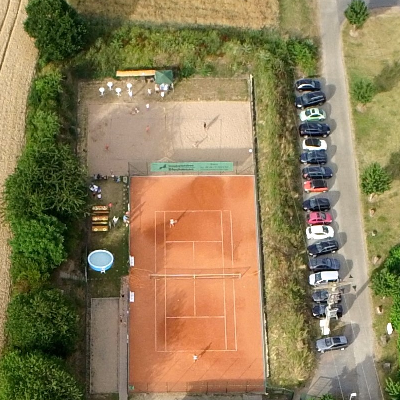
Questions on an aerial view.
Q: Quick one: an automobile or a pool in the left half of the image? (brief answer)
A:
pool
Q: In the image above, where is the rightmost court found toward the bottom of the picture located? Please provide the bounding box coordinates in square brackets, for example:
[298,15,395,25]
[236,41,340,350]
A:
[128,176,266,394]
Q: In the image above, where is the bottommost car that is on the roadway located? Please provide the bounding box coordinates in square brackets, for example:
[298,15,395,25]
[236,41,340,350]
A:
[315,337,349,353]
